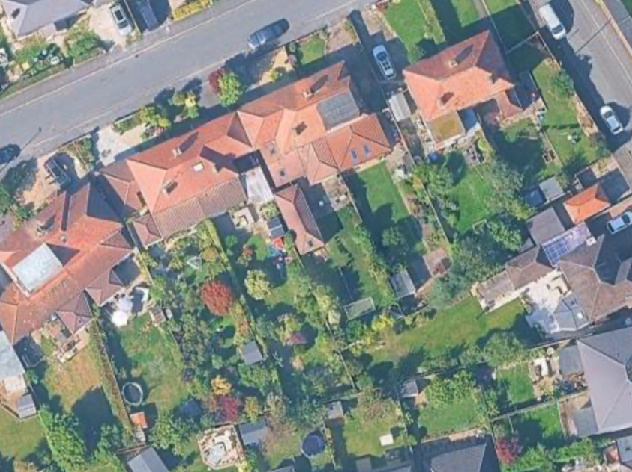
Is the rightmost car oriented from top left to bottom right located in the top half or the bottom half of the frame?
top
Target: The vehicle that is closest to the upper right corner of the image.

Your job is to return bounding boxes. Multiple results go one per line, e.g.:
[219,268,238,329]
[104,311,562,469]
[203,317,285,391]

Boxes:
[536,0,567,39]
